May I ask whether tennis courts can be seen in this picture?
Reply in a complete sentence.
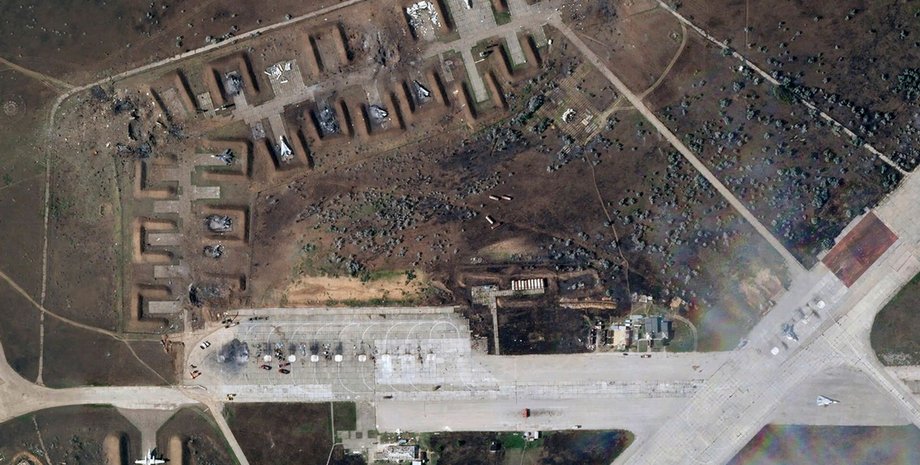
No, I find no tennis court anywhere in the image.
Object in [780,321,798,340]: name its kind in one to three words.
airplane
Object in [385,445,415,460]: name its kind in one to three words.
building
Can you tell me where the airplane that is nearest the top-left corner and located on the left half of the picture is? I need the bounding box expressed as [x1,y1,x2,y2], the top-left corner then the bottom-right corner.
[212,150,234,164]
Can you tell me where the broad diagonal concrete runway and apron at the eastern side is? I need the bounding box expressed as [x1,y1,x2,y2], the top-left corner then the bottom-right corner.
[612,164,920,465]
